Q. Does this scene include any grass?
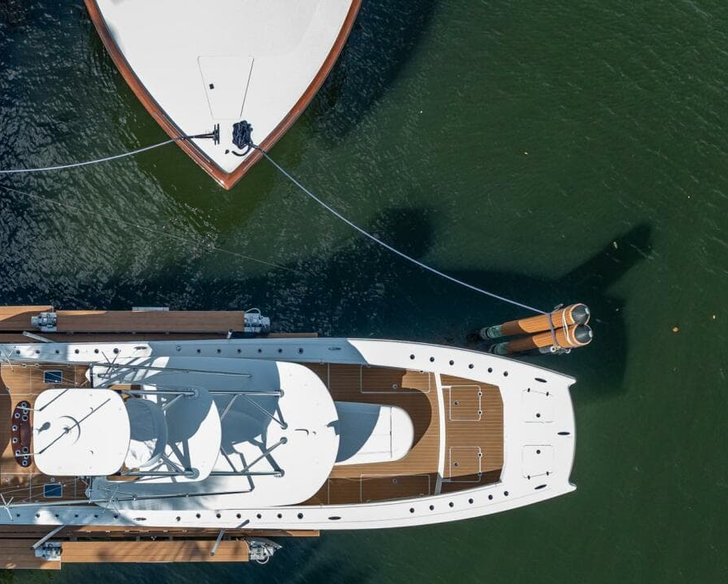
No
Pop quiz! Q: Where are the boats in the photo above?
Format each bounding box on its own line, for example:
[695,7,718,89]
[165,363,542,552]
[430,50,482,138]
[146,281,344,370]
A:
[85,0,361,190]
[0,337,575,530]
